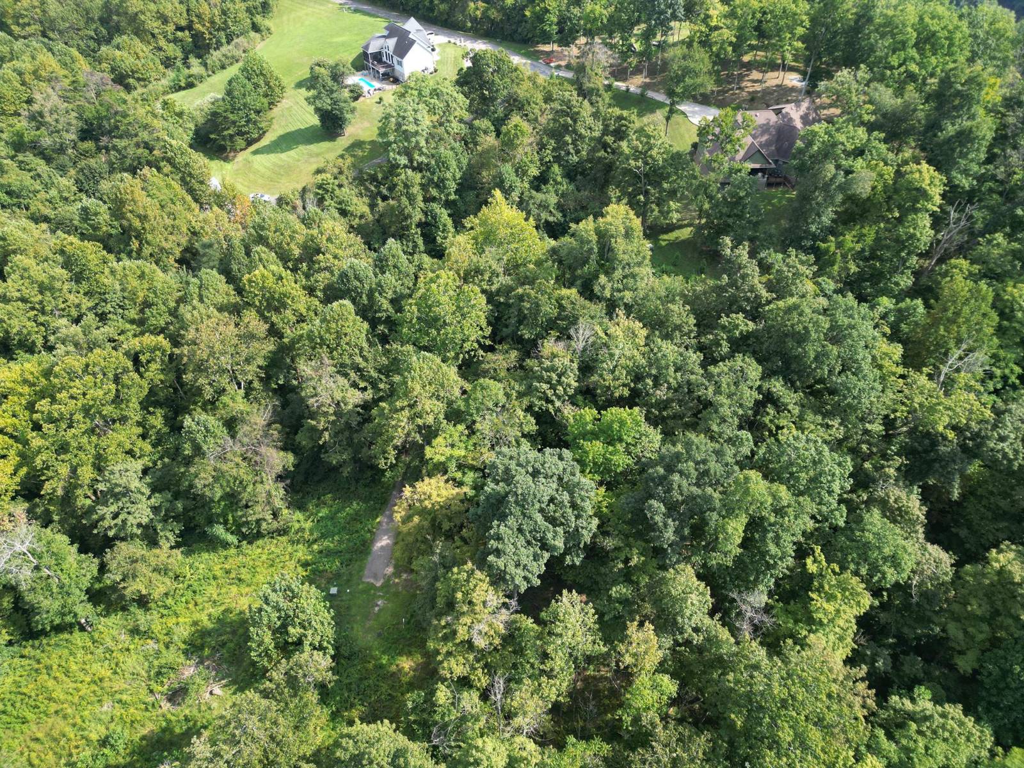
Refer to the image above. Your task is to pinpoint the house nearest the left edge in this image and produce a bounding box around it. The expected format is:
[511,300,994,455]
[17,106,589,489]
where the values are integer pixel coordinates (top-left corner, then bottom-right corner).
[356,17,433,83]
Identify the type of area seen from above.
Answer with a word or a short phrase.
forest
